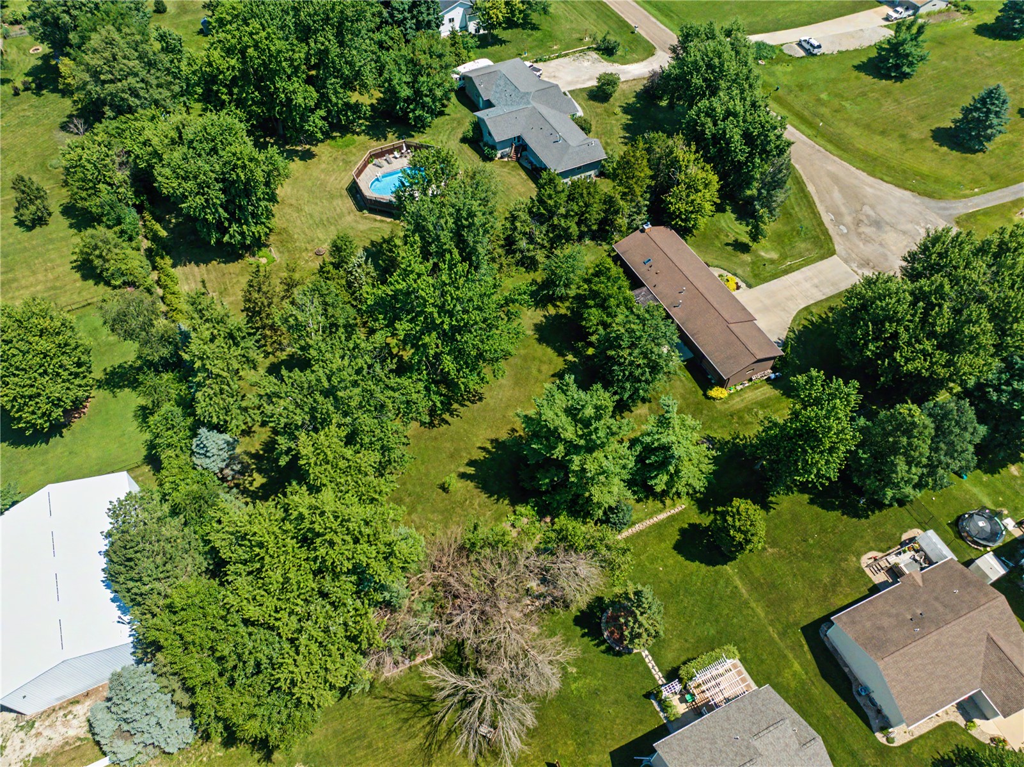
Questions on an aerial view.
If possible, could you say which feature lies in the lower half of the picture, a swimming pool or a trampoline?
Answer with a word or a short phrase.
trampoline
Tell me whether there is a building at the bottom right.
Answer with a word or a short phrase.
Yes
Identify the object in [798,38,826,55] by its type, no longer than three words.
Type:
car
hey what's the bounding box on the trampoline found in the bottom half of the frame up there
[955,503,1013,552]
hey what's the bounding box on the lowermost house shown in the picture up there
[652,683,833,767]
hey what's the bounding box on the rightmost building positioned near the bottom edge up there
[825,558,1024,731]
